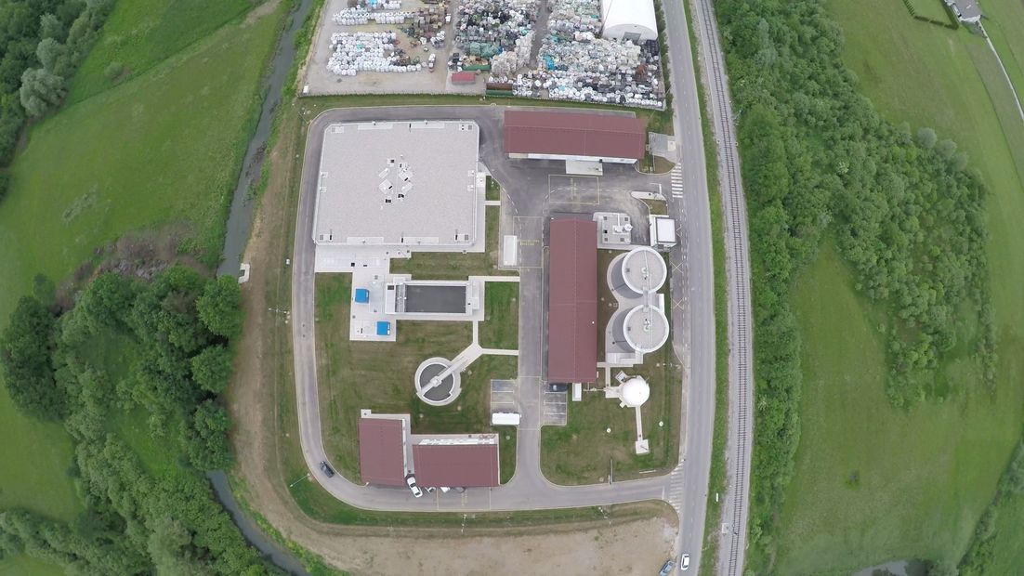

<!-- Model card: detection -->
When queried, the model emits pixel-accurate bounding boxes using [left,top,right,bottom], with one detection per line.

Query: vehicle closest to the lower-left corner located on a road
[317,460,335,481]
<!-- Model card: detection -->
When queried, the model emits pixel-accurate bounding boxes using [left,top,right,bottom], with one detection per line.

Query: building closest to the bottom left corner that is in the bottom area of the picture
[360,418,407,489]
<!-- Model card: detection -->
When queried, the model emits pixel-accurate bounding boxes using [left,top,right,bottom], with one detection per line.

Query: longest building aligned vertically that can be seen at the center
[548,218,597,382]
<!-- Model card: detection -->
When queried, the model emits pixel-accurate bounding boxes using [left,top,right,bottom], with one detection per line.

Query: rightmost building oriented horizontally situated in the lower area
[605,352,643,365]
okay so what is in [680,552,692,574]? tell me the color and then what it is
white vehicle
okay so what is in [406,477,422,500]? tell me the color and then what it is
white car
